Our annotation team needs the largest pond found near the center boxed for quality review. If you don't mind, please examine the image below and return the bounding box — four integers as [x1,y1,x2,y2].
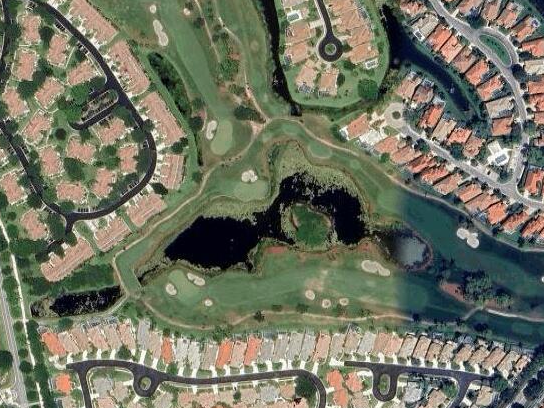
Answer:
[167,174,367,269]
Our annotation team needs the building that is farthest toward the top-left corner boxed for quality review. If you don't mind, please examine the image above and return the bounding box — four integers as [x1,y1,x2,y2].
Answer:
[21,15,40,41]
